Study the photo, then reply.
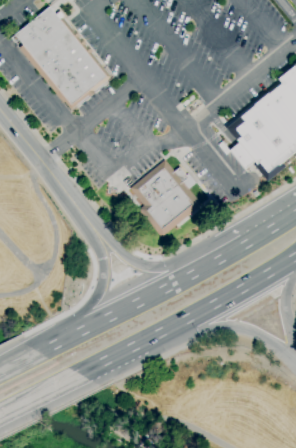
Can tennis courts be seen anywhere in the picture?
No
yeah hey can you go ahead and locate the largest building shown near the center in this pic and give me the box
[130,160,198,235]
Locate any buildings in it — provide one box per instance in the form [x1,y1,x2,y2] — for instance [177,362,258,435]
[222,63,296,180]
[15,3,110,110]
[130,160,198,235]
